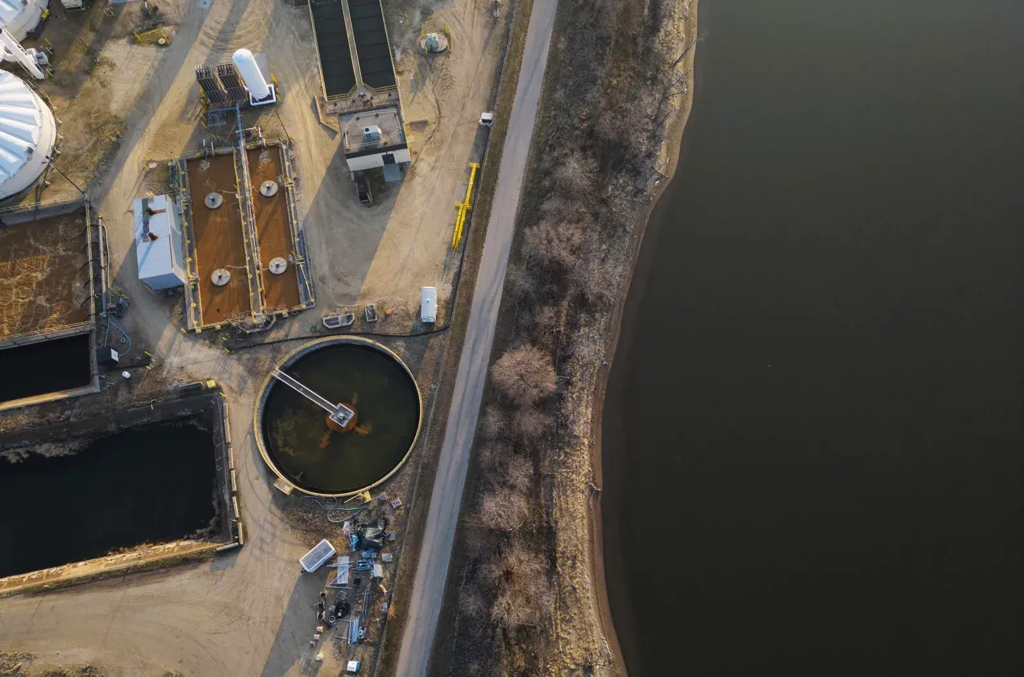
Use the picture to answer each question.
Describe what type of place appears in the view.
industrial area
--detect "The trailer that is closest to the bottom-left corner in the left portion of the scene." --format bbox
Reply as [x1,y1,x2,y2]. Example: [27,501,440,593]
[302,539,338,574]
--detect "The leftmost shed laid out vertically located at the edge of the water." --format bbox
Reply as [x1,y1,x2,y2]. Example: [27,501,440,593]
[134,194,184,288]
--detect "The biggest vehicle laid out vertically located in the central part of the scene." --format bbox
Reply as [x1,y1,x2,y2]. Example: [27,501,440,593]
[420,284,437,326]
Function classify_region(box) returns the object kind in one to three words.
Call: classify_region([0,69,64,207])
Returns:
storage tank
